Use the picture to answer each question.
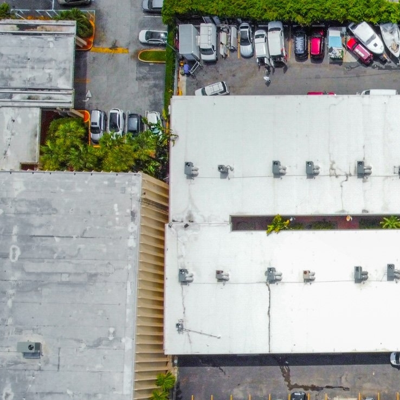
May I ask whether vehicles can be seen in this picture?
Yes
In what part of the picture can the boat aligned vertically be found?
top right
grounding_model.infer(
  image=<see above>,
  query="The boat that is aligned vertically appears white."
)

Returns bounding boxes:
[378,15,400,60]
